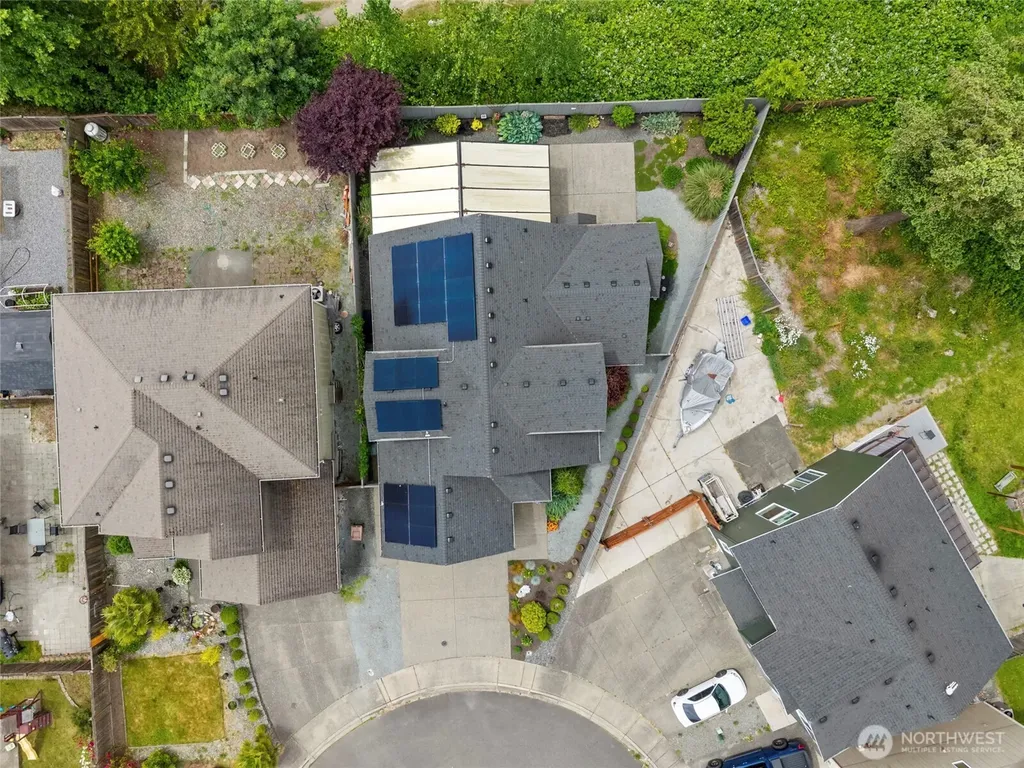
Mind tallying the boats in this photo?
1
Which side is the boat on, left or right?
right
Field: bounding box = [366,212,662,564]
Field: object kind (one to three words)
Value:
house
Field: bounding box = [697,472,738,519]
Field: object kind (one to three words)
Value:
trailer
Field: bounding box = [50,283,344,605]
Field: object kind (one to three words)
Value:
house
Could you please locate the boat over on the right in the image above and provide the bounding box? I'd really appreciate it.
[678,342,738,435]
